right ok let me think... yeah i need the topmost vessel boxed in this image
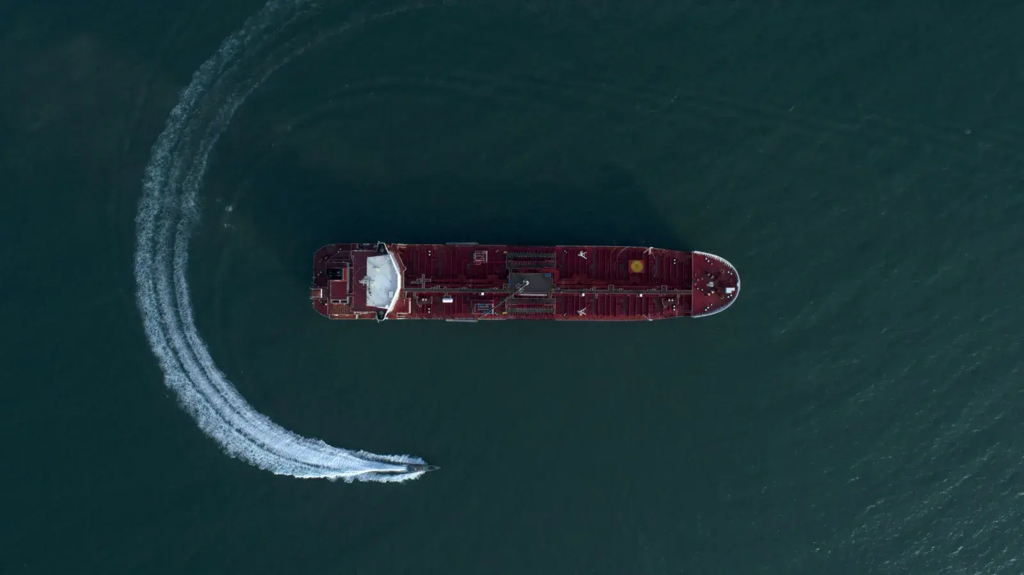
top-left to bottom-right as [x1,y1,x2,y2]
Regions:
[310,242,740,323]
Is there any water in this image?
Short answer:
Yes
